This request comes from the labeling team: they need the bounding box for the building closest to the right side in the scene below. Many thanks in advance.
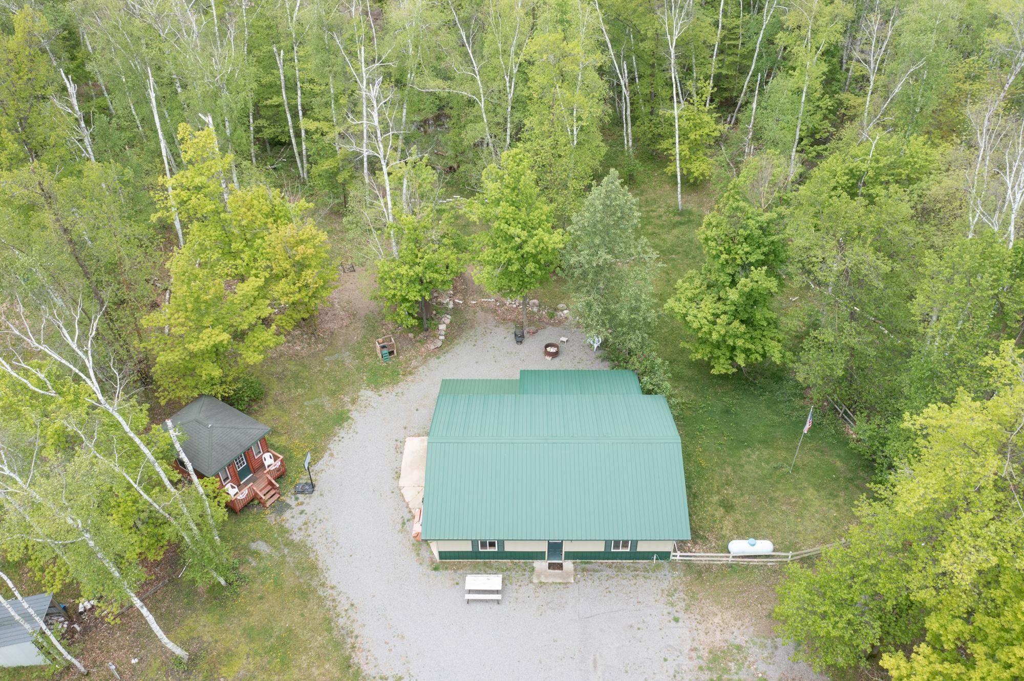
[422,370,691,563]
